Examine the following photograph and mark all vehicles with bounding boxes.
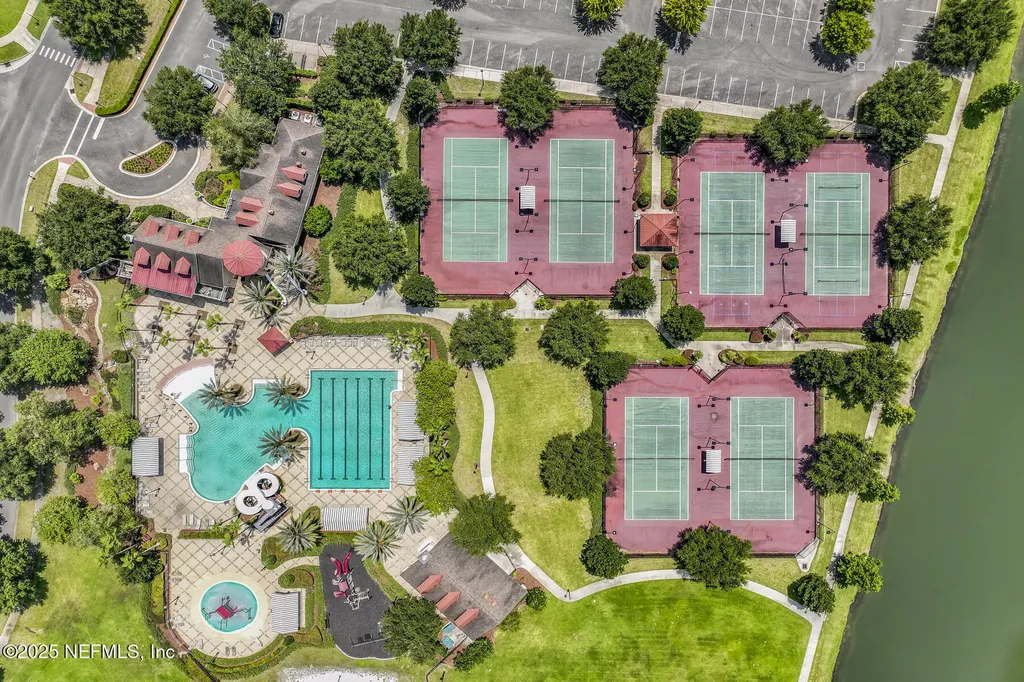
[192,67,218,92]
[269,9,283,37]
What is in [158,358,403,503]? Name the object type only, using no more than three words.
swimming pool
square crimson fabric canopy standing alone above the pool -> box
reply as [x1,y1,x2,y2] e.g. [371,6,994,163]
[258,326,294,356]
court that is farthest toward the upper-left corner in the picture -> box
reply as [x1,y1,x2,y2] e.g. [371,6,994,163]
[421,108,528,295]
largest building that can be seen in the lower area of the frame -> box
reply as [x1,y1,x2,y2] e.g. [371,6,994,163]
[401,532,527,640]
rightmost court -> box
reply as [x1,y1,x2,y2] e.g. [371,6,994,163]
[785,141,889,328]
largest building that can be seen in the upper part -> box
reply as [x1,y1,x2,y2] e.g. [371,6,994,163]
[111,117,327,302]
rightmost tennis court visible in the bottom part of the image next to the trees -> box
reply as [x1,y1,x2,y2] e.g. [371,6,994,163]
[710,366,816,554]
